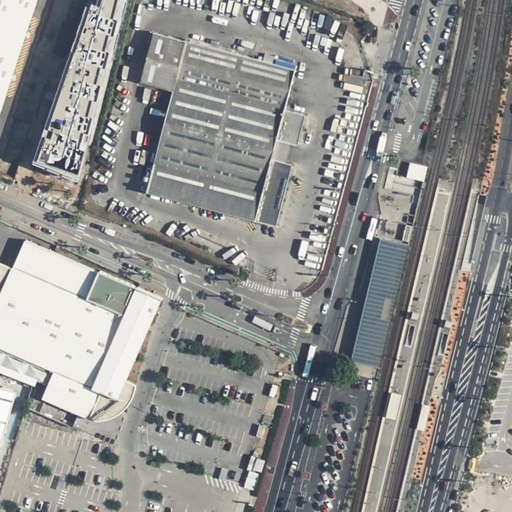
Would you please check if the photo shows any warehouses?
Yes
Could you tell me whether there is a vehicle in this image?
Yes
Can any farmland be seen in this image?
No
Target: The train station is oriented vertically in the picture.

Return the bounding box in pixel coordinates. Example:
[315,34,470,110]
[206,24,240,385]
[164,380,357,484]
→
[362,178,481,512]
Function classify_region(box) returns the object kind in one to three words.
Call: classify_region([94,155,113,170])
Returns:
vehicle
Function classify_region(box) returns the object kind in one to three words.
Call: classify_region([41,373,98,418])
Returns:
building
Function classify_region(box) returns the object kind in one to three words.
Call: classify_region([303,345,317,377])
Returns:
vehicle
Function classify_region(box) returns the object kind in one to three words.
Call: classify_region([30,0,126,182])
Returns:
building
